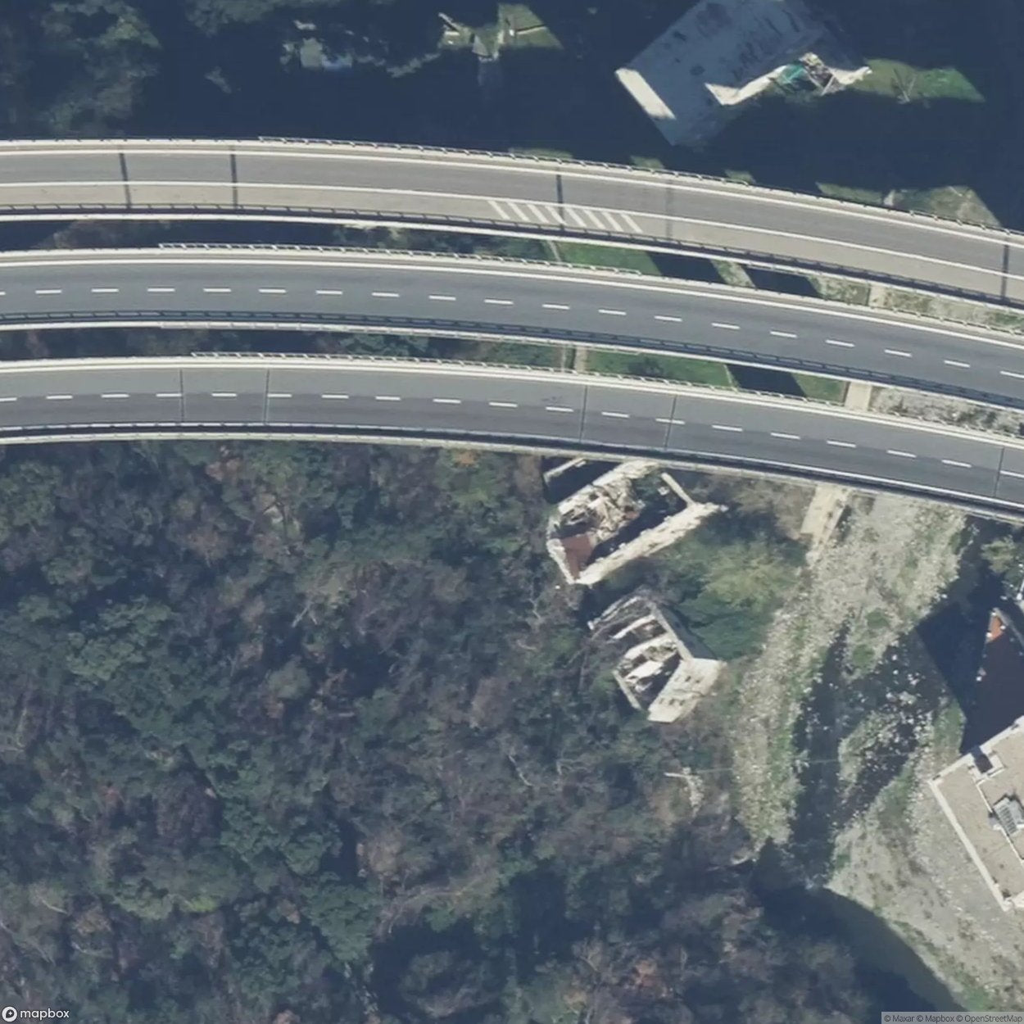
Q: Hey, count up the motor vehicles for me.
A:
0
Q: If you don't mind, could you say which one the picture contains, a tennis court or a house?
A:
house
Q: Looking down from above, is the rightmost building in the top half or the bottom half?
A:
bottom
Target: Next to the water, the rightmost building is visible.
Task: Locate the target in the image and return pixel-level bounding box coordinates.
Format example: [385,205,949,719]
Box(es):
[930,716,1024,913]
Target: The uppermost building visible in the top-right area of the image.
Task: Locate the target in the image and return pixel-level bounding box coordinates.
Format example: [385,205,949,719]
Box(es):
[616,0,880,150]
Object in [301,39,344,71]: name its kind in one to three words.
shed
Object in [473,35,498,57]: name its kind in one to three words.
shed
